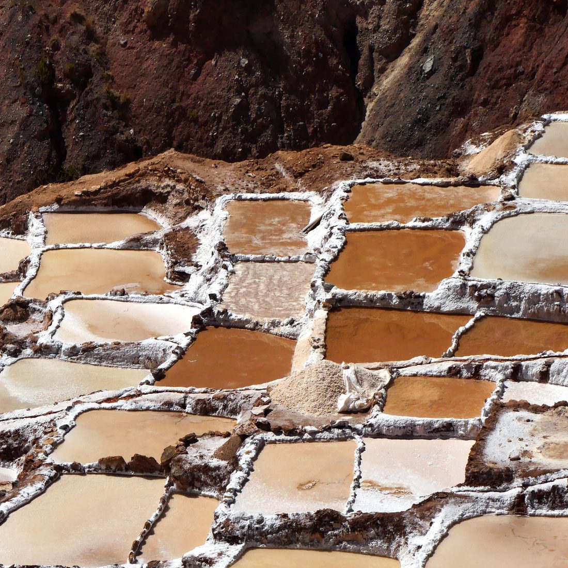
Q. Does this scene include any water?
Yes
